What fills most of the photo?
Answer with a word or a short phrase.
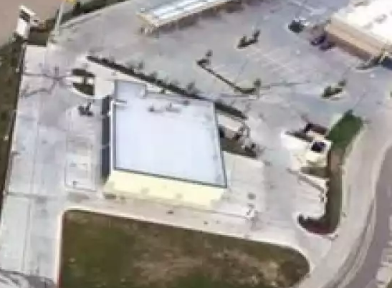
paved ground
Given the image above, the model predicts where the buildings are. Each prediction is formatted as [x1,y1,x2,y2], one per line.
[100,84,222,210]
[320,7,392,67]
